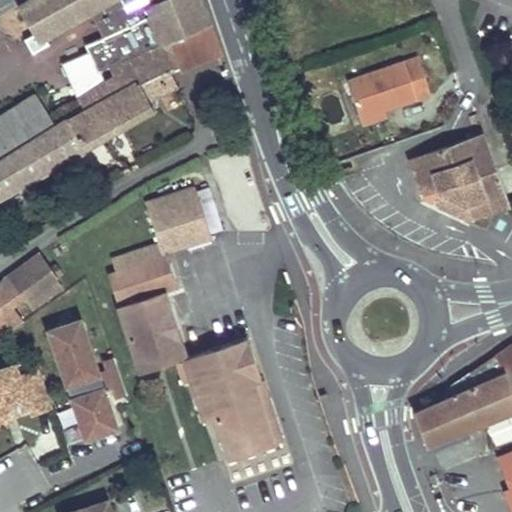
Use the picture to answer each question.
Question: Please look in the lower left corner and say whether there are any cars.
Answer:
Yes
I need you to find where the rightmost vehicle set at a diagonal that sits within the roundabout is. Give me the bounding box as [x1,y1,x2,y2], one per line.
[393,268,413,286]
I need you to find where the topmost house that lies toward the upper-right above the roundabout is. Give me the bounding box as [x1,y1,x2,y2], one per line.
[349,55,431,126]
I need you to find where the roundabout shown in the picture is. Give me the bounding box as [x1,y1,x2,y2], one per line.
[322,261,444,383]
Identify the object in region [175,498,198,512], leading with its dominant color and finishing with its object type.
white vehicle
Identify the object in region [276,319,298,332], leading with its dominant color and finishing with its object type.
gray vehicle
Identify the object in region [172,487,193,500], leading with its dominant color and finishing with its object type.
white vehicle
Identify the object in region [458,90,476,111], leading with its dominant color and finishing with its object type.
white car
